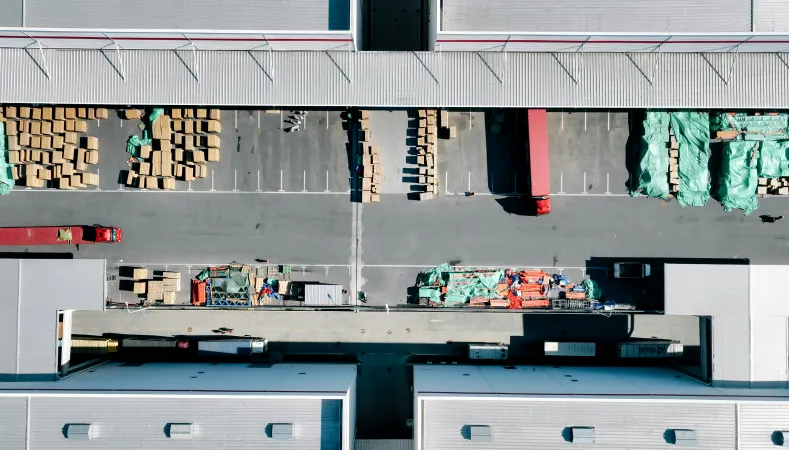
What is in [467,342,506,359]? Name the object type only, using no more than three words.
vehicle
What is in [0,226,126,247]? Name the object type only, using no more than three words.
truck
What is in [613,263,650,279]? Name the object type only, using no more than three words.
vehicle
